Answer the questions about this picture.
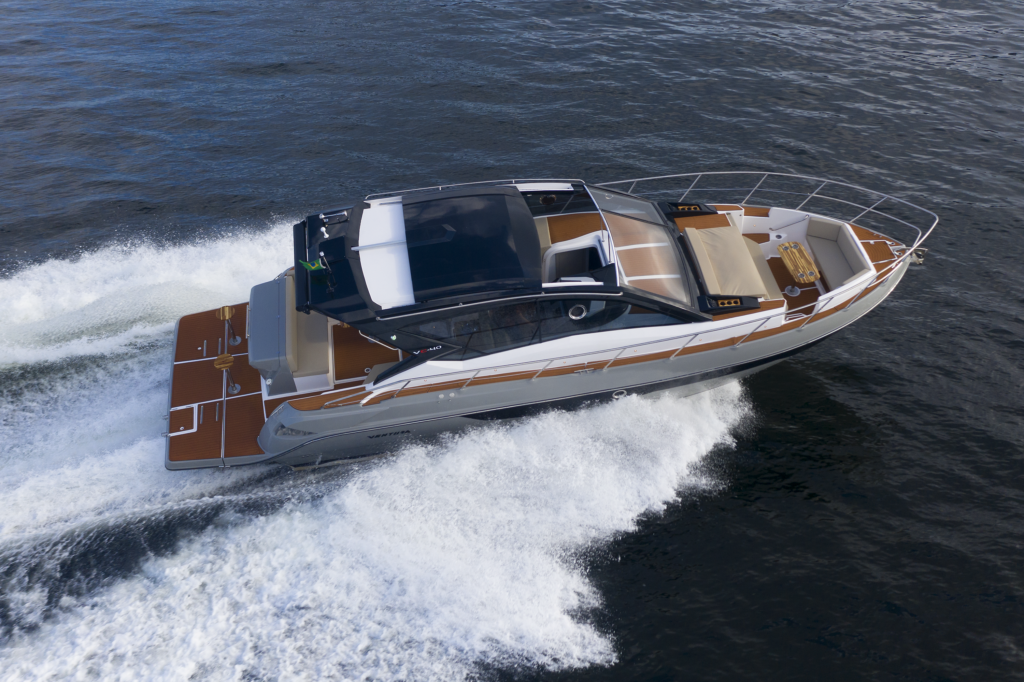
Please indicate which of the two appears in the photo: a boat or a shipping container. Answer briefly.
boat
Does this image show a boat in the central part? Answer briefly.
Yes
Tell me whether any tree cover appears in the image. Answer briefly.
No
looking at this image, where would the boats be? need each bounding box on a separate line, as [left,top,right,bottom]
[162,172,943,476]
